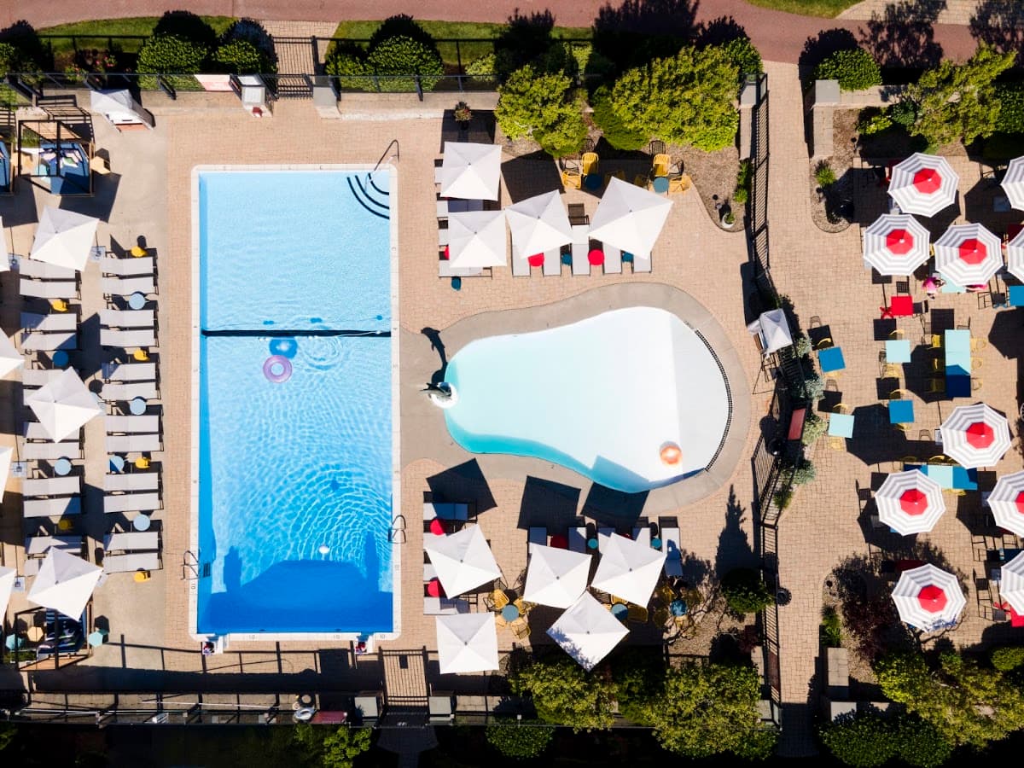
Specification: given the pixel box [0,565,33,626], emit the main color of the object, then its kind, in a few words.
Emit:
white umbrella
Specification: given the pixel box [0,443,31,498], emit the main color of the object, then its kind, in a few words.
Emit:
white umbrella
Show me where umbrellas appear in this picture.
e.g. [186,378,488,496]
[449,210,509,269]
[993,228,1024,288]
[974,467,1024,540]
[858,213,929,279]
[888,561,965,635]
[930,401,1010,471]
[0,325,39,378]
[423,521,502,602]
[23,365,111,444]
[591,531,669,610]
[25,545,108,623]
[585,175,673,262]
[0,565,33,626]
[988,157,1024,216]
[883,152,958,222]
[870,466,944,538]
[546,588,631,672]
[517,540,588,611]
[924,221,1004,289]
[0,443,31,498]
[28,204,110,271]
[983,546,1024,615]
[435,611,499,677]
[503,188,576,261]
[439,140,501,201]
